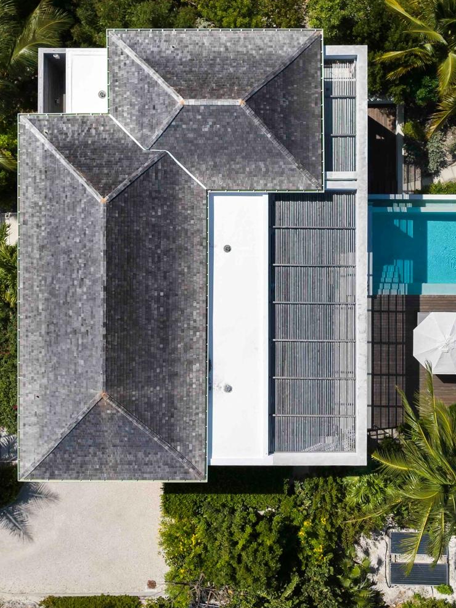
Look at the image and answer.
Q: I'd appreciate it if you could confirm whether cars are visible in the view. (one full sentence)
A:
No, I can see no car in this picture.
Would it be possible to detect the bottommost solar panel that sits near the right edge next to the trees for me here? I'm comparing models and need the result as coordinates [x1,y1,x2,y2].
[390,560,448,586]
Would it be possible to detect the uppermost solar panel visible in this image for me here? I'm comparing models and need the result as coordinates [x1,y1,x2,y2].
[390,530,447,554]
